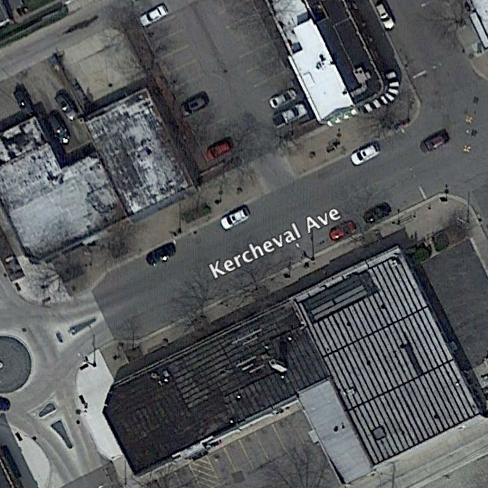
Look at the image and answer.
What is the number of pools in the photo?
0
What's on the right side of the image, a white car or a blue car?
white car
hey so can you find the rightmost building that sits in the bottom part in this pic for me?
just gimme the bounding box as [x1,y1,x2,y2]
[103,248,486,485]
